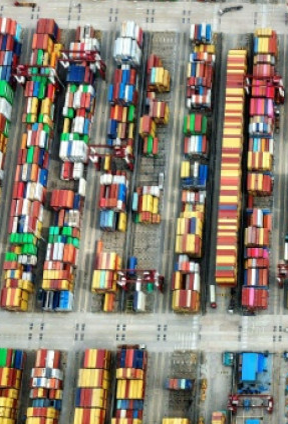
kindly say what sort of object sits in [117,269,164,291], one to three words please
container crane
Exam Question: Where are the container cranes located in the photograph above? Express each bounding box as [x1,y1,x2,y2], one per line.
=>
[249,76,285,103]
[231,392,272,413]
[57,50,106,77]
[14,64,64,92]
[88,145,135,170]
[117,269,164,291]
